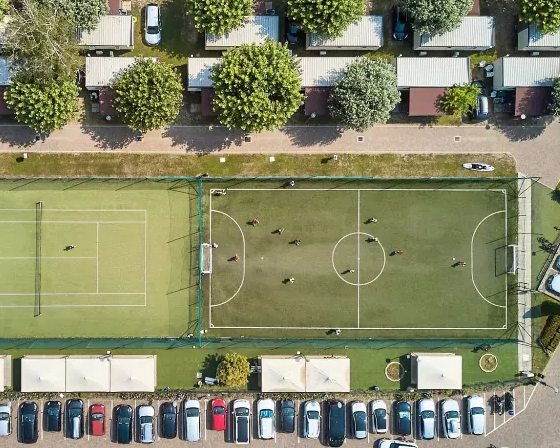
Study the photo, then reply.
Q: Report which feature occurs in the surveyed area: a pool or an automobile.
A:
automobile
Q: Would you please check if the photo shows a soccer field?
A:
Yes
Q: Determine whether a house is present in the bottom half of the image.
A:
No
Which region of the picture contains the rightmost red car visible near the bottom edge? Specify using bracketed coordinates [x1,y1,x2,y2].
[210,397,228,430]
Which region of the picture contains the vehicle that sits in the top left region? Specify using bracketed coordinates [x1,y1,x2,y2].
[143,5,161,46]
